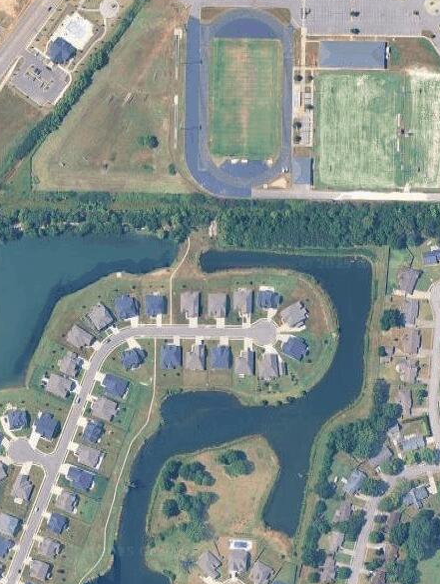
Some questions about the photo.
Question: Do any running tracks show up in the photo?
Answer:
Yes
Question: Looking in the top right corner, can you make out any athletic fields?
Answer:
Yes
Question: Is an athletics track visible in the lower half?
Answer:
No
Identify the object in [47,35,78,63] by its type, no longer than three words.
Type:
building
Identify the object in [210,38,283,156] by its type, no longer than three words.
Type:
sports field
